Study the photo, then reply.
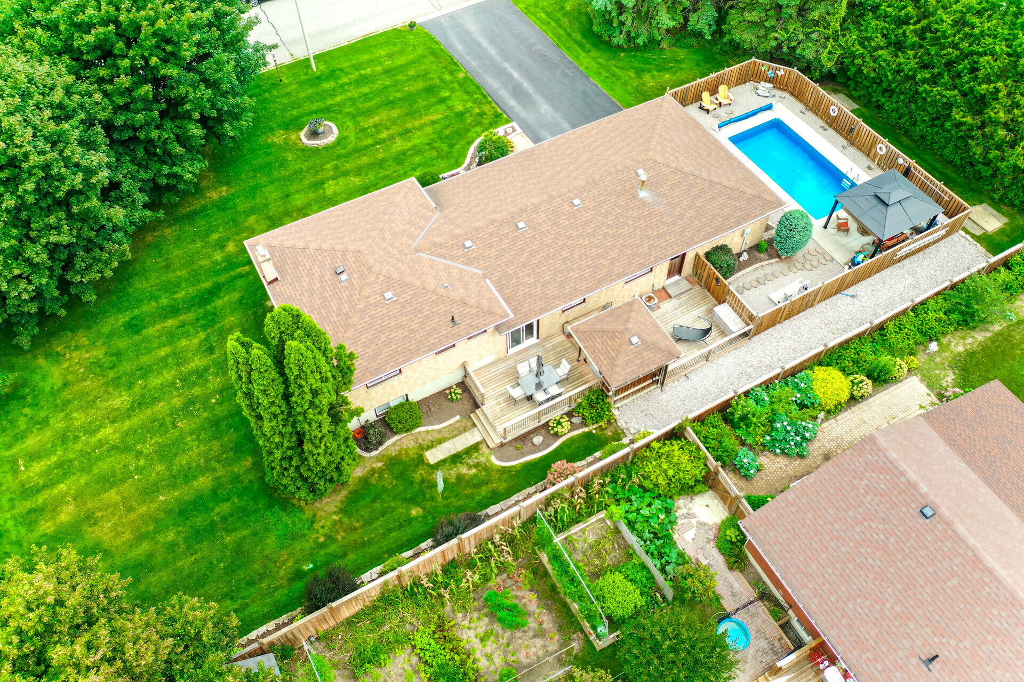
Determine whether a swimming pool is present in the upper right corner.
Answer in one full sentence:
Yes, in the upper right corner there is a swimming pool.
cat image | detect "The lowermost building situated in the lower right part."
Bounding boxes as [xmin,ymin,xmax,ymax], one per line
[736,385,1024,682]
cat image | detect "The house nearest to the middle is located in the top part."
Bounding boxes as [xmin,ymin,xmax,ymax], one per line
[242,95,786,421]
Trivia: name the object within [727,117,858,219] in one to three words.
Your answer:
swimming pool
